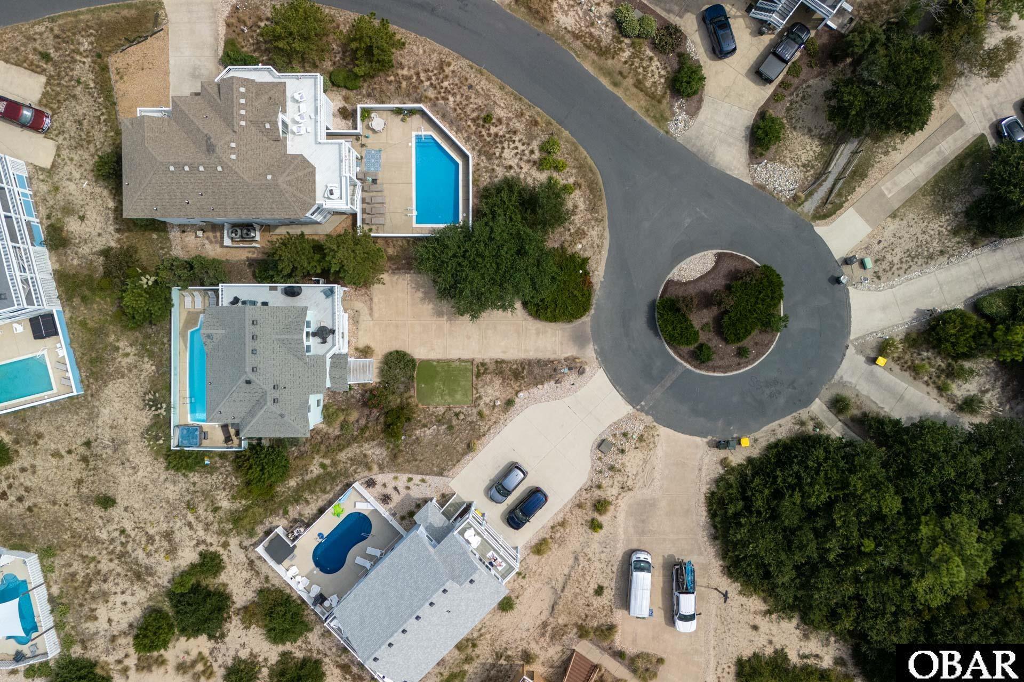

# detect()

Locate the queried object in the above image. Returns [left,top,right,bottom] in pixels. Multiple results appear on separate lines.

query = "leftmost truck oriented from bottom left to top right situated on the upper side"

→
[755,23,807,88]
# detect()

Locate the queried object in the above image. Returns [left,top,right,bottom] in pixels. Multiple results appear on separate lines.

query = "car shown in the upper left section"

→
[0,97,56,133]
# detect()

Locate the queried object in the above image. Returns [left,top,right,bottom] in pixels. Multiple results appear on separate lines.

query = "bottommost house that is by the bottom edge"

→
[324,492,519,682]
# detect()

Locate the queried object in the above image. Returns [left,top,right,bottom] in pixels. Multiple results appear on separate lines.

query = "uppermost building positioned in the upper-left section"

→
[121,65,366,225]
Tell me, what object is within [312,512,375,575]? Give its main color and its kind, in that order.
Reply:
blue swimming pool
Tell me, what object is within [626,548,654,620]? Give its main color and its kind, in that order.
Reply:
white van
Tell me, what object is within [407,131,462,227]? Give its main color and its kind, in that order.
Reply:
blue swimming pool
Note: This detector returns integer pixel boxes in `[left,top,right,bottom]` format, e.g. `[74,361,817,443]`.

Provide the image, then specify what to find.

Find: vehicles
[505,482,552,530]
[755,23,807,88]
[992,107,1024,157]
[626,548,654,620]
[702,7,736,63]
[671,562,699,629]
[487,458,529,505]
[0,97,56,133]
